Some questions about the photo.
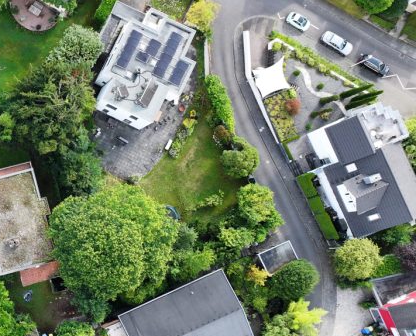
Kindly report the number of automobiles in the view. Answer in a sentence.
My tally gives 3 automobiles in this view.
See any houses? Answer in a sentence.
Yes, a house is visible in the scene.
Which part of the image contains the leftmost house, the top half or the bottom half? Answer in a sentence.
The leftmost house sits in the bottom half of the picture.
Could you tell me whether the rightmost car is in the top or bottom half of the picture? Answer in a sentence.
The rightmost car is in the top half of the image.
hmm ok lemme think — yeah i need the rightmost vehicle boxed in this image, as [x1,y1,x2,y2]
[356,53,391,78]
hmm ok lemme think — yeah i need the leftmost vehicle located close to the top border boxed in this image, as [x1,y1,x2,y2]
[284,12,312,33]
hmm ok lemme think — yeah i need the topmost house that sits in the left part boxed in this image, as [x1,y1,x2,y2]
[96,1,196,129]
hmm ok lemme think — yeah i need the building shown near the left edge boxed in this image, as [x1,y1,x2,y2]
[0,163,59,287]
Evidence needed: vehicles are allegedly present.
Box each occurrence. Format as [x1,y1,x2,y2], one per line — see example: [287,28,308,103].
[284,12,312,33]
[317,29,355,55]
[356,53,391,78]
